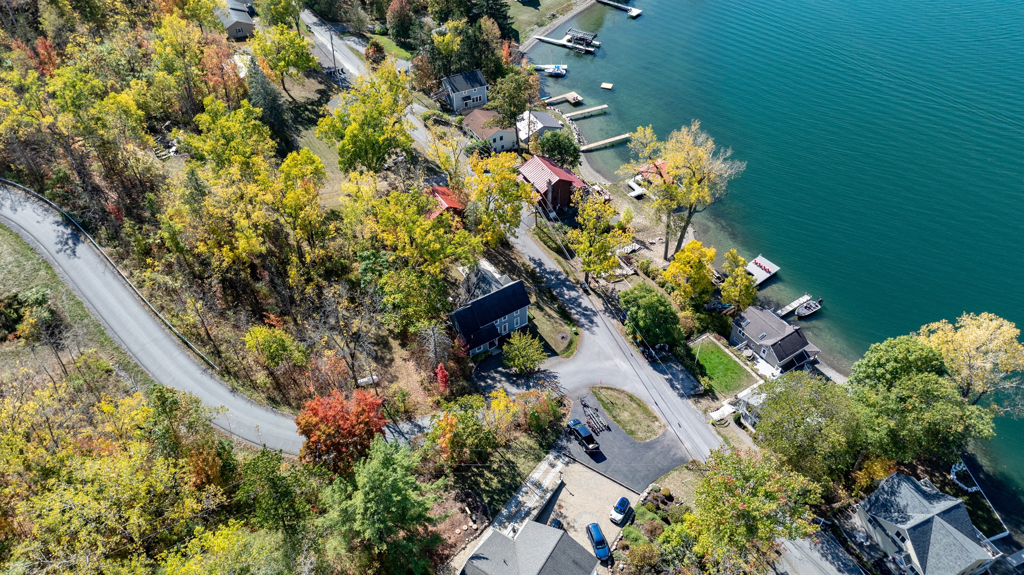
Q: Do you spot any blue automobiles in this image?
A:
Yes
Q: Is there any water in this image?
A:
Yes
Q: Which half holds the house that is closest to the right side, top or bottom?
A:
bottom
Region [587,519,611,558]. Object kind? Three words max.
car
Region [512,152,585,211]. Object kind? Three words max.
house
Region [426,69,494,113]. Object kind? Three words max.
house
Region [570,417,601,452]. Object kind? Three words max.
truck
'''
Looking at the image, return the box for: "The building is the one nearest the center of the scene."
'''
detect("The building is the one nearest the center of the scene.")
[445,268,531,355]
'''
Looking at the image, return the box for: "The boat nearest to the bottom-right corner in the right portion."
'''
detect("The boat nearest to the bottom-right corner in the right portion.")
[795,299,825,314]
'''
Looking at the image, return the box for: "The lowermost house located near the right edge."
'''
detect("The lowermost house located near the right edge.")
[848,471,1012,575]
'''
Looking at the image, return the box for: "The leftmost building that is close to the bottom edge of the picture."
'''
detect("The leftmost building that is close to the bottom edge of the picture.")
[458,516,601,575]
